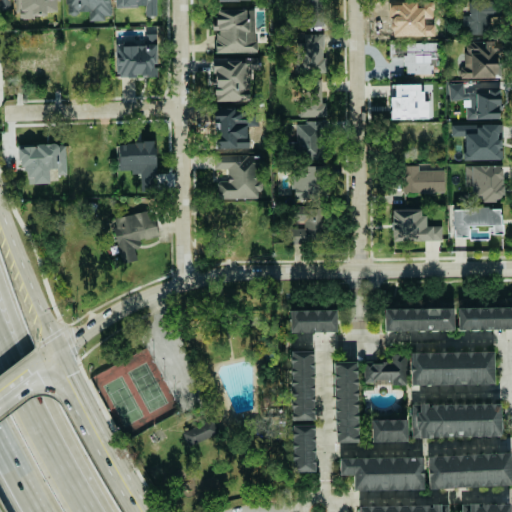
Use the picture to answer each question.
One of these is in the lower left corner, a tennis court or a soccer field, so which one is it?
tennis court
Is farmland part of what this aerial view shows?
No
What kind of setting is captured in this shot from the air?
residential area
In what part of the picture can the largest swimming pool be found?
bottom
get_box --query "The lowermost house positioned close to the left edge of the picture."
[19,144,66,184]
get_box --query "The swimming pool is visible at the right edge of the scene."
[470,226,491,242]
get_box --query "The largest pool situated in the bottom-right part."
[364,386,404,412]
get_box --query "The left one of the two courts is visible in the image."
[104,377,144,426]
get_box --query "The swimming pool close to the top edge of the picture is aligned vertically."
[256,8,268,43]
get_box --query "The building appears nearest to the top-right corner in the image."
[464,0,498,34]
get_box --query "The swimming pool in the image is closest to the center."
[278,172,290,190]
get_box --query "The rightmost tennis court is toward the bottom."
[129,364,168,412]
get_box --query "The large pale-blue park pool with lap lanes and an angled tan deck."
[214,356,258,418]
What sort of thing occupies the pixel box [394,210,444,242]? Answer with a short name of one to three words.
house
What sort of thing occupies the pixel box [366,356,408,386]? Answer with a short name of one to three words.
building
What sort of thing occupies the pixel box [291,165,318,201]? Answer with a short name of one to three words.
house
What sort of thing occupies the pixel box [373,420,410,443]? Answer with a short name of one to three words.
building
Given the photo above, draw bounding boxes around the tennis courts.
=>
[129,364,168,412]
[104,377,144,426]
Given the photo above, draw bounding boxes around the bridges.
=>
[0,348,64,420]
